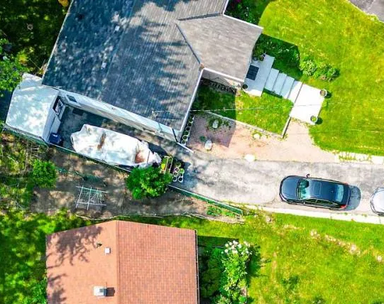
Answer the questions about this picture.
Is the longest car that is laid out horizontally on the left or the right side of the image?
right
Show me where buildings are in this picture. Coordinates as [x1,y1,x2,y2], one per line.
[40,0,264,141]
[44,224,200,304]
